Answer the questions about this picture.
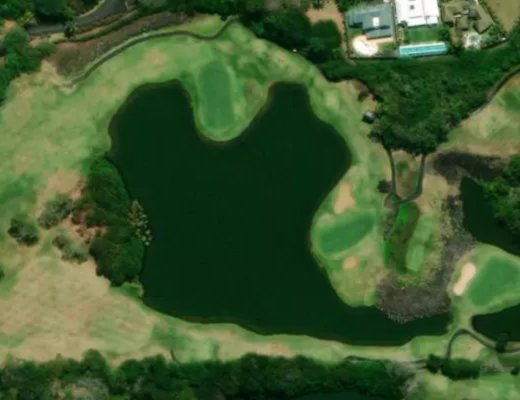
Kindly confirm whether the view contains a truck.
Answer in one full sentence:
No, the picture doesn't show any truck.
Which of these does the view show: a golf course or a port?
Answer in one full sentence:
The picture captures a golf course.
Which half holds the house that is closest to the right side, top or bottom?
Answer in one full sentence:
The house that is closest to the right side is in the top half of the image.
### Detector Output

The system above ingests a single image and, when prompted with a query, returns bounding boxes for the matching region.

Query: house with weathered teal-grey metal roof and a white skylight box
[348,5,393,38]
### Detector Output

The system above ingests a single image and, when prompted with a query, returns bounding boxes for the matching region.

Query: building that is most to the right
[440,0,496,33]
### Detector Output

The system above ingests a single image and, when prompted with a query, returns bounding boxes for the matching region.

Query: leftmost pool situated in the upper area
[399,44,445,57]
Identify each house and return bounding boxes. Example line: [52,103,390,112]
[348,5,393,38]
[440,0,496,33]
[396,0,440,27]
